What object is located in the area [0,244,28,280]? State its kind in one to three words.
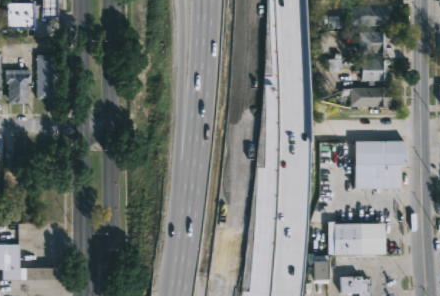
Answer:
building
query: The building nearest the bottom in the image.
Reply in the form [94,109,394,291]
[340,276,372,296]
